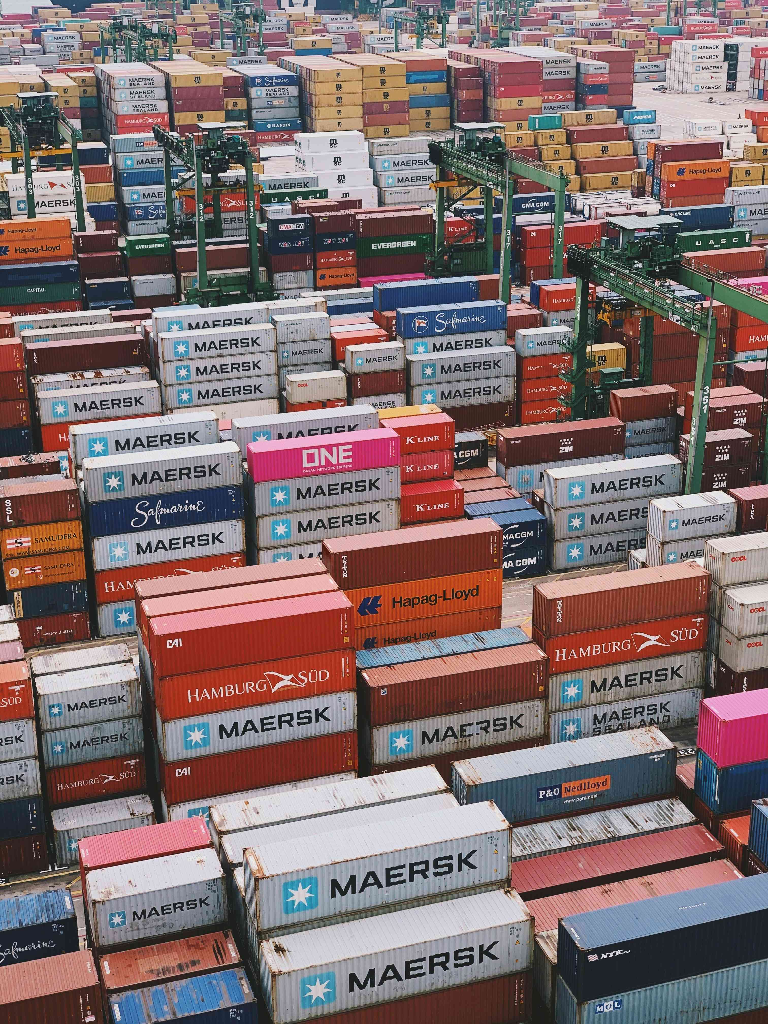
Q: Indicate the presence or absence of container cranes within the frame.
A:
Yes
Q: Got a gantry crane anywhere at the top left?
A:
Yes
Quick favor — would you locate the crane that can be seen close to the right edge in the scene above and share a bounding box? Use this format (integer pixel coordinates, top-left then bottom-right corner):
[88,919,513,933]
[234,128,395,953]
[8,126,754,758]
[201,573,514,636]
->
[543,214,768,494]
